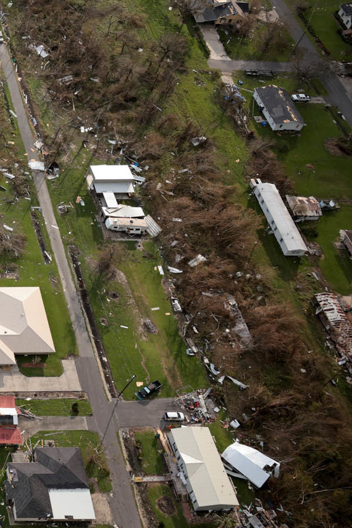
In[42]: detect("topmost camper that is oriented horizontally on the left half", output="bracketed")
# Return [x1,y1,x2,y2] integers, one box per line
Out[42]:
[102,217,147,235]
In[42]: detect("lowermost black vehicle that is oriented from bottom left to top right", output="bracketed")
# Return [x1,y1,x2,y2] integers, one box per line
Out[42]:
[139,381,162,398]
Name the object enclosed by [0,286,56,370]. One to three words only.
house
